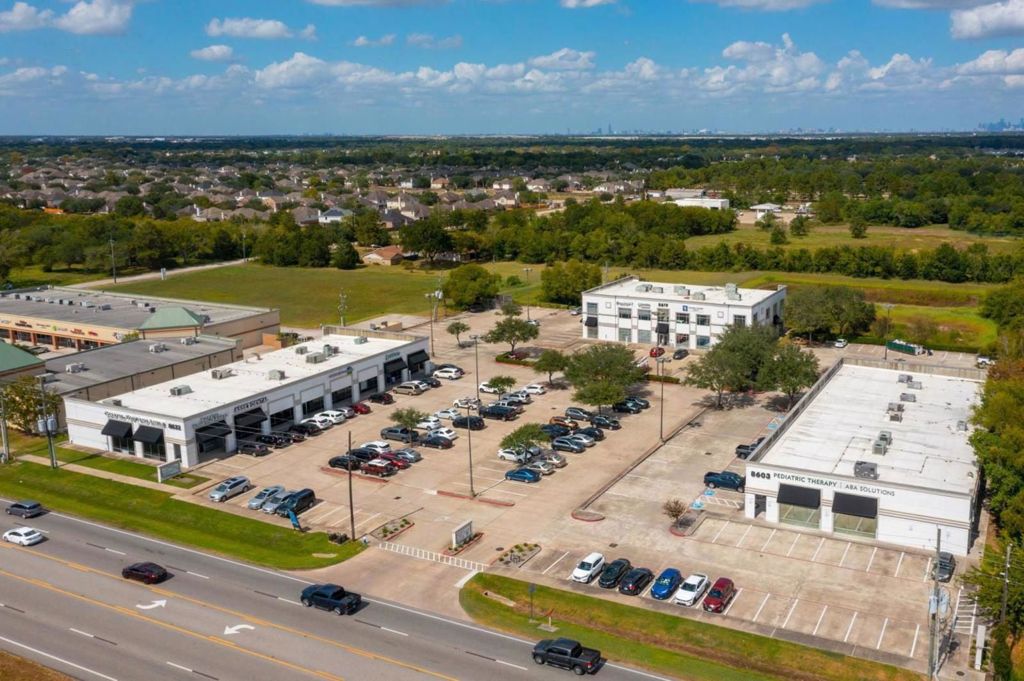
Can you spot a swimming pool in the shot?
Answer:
No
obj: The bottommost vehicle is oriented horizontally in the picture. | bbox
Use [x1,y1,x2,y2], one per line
[529,637,603,676]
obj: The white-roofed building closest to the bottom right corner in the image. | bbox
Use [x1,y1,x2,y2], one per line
[745,357,999,557]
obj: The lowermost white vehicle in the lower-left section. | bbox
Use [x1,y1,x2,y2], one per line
[0,525,44,546]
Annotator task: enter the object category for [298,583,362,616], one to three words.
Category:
truck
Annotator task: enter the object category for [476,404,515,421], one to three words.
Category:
vehicle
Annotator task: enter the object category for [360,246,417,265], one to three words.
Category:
house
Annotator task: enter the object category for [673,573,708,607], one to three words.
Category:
car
